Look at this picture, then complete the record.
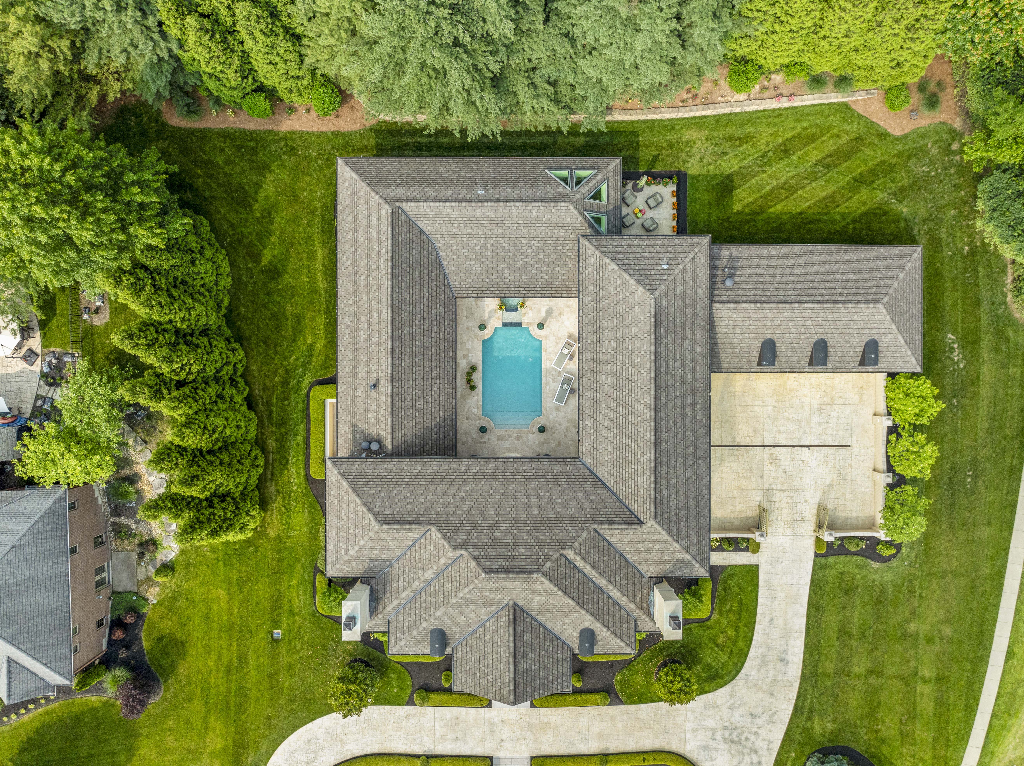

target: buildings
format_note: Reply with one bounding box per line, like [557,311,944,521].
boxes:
[324,155,925,706]
[0,484,112,700]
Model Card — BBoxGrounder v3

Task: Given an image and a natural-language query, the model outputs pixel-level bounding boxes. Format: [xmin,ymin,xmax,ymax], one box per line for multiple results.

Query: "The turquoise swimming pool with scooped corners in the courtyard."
[477,322,547,434]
